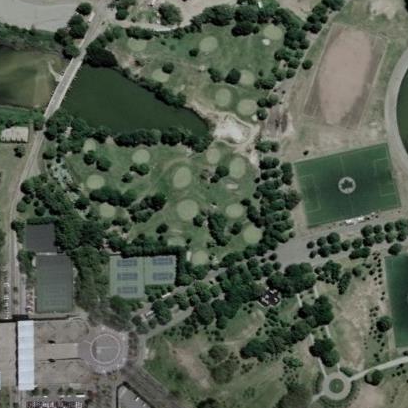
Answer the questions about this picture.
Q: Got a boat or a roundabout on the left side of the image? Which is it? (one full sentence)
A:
It is a roundabout that can be seen on the left side of the image.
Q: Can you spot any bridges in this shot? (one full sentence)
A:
Yes, the frame does contain a bridge.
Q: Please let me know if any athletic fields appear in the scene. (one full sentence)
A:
Yes, there is an athletic field in the image.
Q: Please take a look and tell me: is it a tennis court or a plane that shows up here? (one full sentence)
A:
It is a tennis court that can be seen here.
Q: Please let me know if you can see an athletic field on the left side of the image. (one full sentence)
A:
No, no athletic field appears on the left side of the image.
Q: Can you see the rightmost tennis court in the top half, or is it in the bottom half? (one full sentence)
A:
It is in the bottom half that the rightmost tennis court appears.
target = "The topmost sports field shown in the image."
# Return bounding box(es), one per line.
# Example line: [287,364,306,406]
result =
[303,23,388,130]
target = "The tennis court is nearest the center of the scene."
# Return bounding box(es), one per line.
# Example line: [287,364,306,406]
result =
[143,256,176,284]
